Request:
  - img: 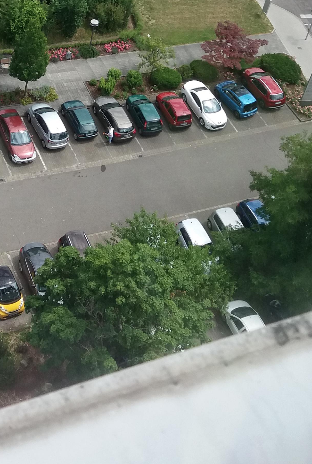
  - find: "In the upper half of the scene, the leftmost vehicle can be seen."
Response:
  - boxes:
[0,110,35,163]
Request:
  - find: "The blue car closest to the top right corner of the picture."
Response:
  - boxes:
[219,82,259,119]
